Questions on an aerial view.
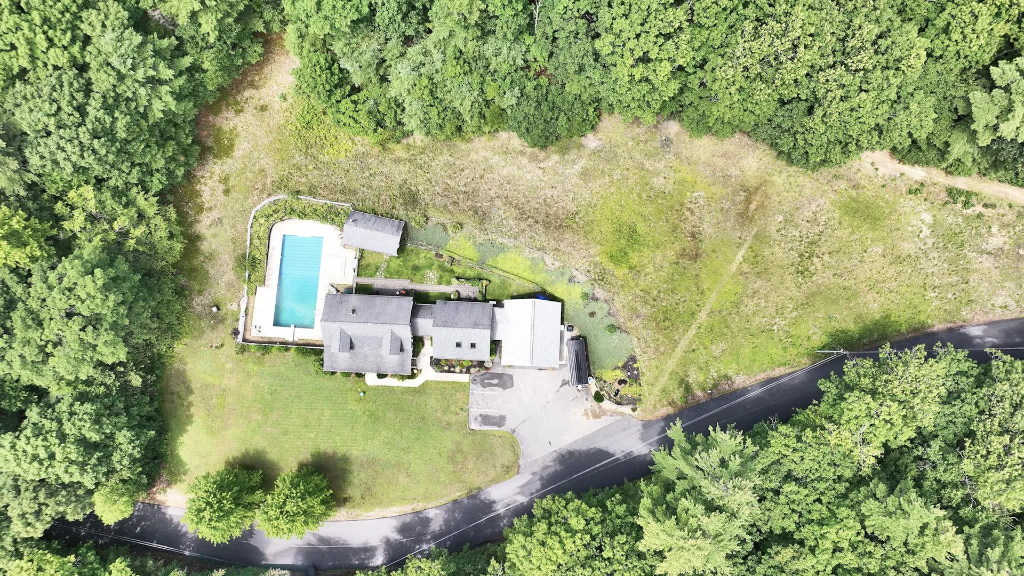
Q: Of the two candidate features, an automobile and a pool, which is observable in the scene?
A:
pool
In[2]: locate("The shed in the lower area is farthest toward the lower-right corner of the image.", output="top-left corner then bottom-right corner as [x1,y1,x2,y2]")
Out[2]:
[566,339,588,386]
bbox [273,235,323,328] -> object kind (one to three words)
swimming pool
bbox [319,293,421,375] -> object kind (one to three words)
house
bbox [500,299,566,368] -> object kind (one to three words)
building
